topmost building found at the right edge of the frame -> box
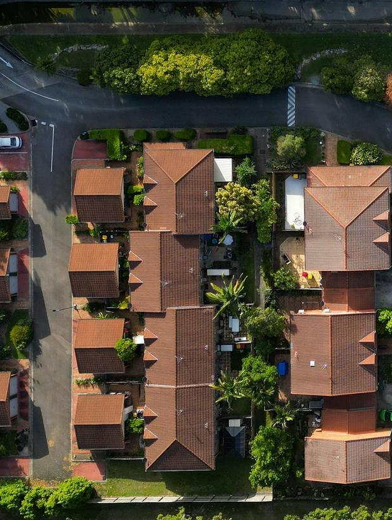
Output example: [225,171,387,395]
[300,186,391,273]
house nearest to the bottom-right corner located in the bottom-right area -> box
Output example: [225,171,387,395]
[304,429,392,485]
